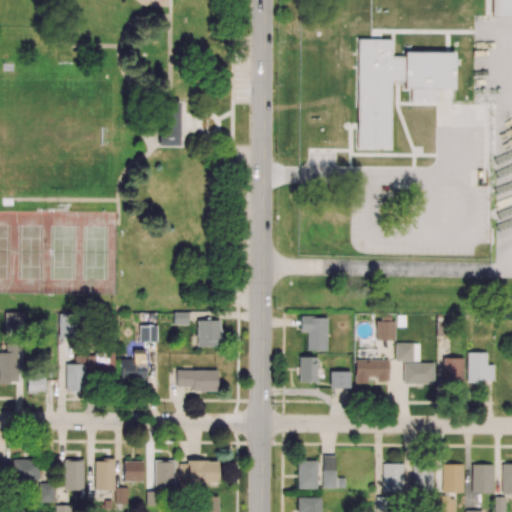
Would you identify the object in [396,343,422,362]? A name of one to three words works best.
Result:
building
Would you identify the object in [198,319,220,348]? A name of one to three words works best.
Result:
house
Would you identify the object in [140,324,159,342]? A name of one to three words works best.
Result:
building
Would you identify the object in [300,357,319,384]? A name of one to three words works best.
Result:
house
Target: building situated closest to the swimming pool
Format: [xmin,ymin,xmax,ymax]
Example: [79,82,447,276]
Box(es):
[376,321,396,341]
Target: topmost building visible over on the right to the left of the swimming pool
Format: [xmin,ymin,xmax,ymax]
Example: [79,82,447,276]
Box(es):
[302,316,330,352]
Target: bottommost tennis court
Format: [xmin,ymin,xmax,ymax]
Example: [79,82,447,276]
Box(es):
[0,212,116,294]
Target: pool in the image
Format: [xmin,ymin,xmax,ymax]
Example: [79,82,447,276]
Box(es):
[356,316,376,346]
